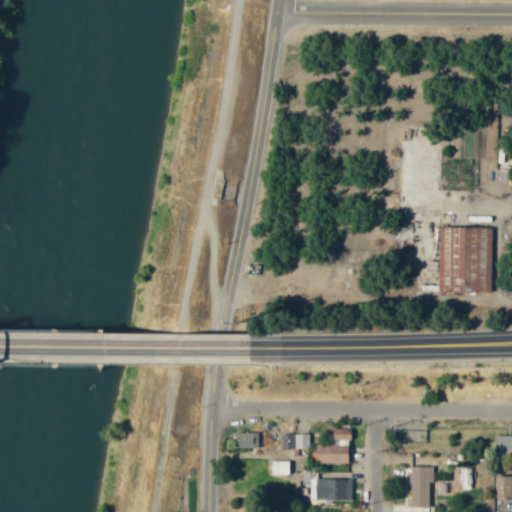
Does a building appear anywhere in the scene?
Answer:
Yes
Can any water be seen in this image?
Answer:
Yes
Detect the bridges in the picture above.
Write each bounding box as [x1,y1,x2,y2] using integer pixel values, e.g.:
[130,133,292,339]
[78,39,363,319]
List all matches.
[0,330,249,372]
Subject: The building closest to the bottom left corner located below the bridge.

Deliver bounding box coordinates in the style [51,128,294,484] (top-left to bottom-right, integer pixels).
[234,433,260,453]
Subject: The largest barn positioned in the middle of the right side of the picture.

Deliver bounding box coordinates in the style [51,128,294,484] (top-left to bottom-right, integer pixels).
[440,228,493,292]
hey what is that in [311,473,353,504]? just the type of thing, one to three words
house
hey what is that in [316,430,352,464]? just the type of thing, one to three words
house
